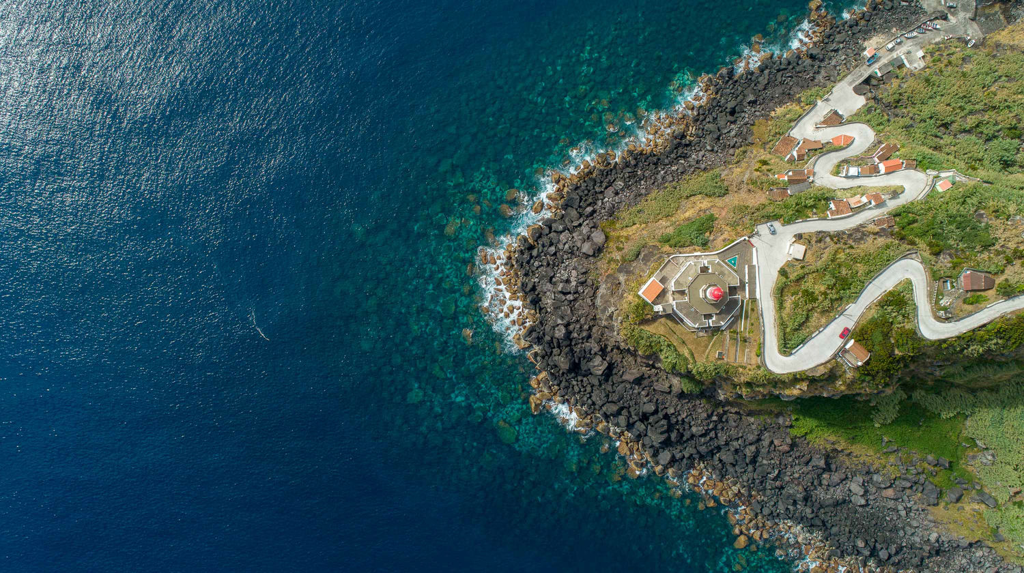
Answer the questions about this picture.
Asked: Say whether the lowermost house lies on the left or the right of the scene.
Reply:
right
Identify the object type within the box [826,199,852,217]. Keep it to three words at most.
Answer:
house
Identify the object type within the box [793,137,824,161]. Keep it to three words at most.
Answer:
house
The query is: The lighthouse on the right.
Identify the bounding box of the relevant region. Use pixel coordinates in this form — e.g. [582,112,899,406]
[670,259,741,327]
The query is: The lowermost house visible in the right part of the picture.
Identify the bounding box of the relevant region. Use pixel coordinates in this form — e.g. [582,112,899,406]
[837,341,871,367]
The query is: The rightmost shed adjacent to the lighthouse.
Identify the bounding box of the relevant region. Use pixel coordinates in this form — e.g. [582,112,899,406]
[745,265,757,298]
